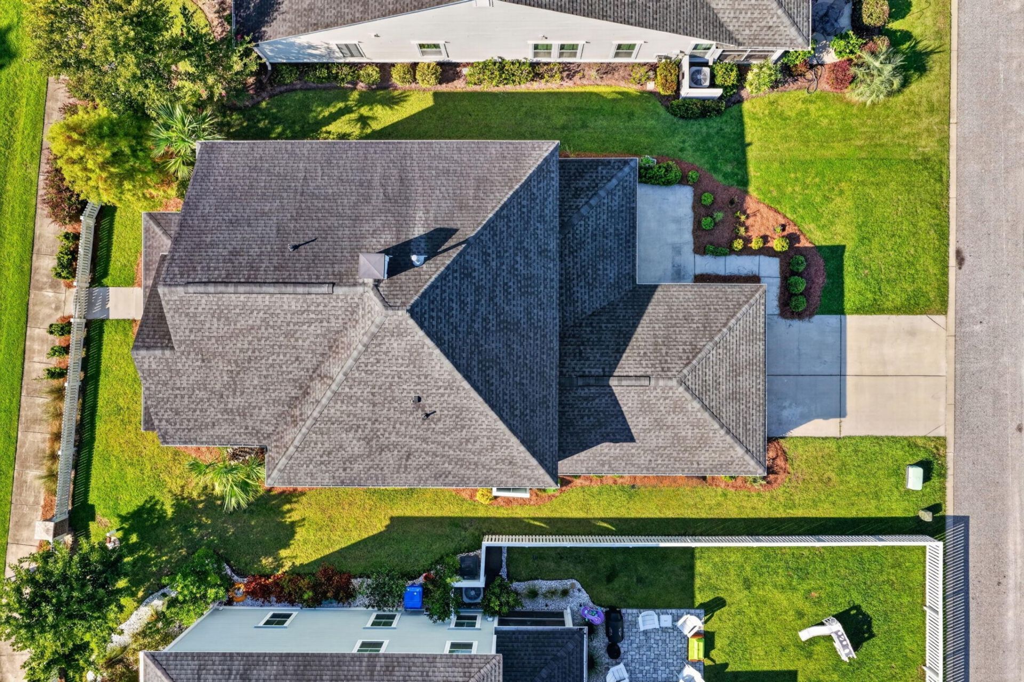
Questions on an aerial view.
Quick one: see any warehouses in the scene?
No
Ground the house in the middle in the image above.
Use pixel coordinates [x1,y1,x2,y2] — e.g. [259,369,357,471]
[132,139,769,488]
